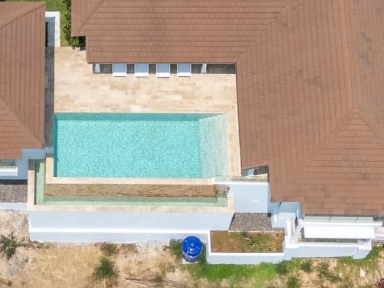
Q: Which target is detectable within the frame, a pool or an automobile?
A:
pool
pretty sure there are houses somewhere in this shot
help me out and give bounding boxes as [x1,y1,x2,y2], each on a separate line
[0,0,46,186]
[69,0,384,269]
